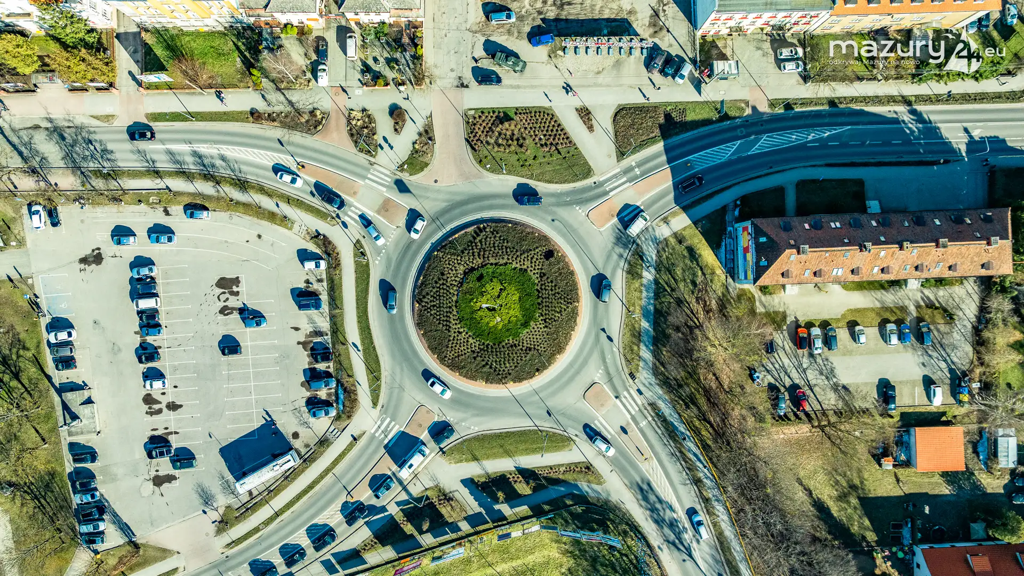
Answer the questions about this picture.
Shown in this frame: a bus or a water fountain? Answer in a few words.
bus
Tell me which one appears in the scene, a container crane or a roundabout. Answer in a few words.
roundabout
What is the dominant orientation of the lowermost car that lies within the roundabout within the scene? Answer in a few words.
at an angle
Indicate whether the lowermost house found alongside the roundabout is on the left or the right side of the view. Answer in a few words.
right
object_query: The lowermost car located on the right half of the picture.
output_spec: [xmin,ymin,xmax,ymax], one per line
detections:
[690,511,710,540]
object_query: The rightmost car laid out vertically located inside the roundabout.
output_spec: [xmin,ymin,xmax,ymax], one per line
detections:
[599,280,611,304]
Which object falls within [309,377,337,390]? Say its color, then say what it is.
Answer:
blue vehicle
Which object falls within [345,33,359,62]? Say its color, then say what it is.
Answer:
white vehicle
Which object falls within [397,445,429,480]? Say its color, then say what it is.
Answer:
white vehicle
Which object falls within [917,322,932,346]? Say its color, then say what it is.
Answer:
blue car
